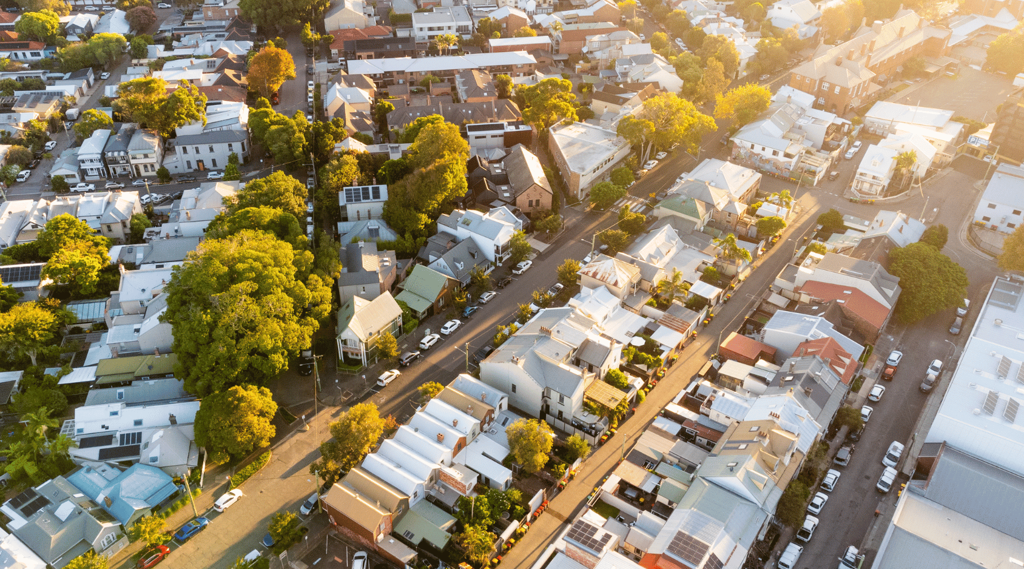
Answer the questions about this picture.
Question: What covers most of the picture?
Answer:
buildings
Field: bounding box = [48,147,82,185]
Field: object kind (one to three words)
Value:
house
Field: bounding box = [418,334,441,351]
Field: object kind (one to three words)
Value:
car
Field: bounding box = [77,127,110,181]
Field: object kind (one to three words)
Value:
house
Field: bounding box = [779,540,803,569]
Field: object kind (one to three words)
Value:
vehicle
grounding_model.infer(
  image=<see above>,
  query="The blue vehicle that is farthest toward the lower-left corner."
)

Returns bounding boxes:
[174,519,207,544]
